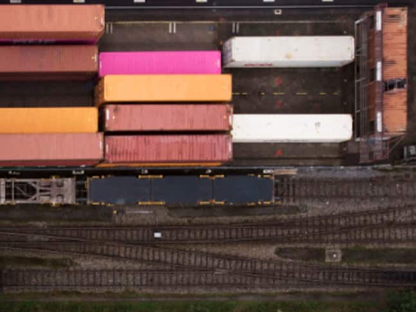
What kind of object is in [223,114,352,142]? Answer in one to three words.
shipping container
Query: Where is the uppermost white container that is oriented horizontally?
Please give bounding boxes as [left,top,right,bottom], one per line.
[221,36,353,68]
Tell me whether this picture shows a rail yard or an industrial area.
rail yard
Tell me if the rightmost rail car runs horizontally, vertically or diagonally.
horizontally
